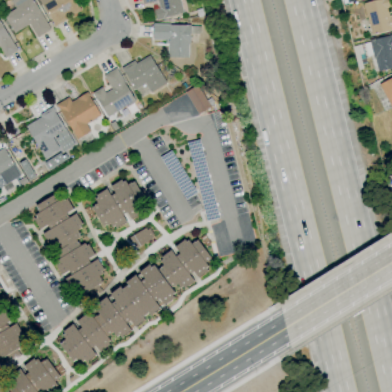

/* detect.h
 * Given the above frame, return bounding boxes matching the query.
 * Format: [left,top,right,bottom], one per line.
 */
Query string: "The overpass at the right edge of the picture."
[277,234,392,356]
